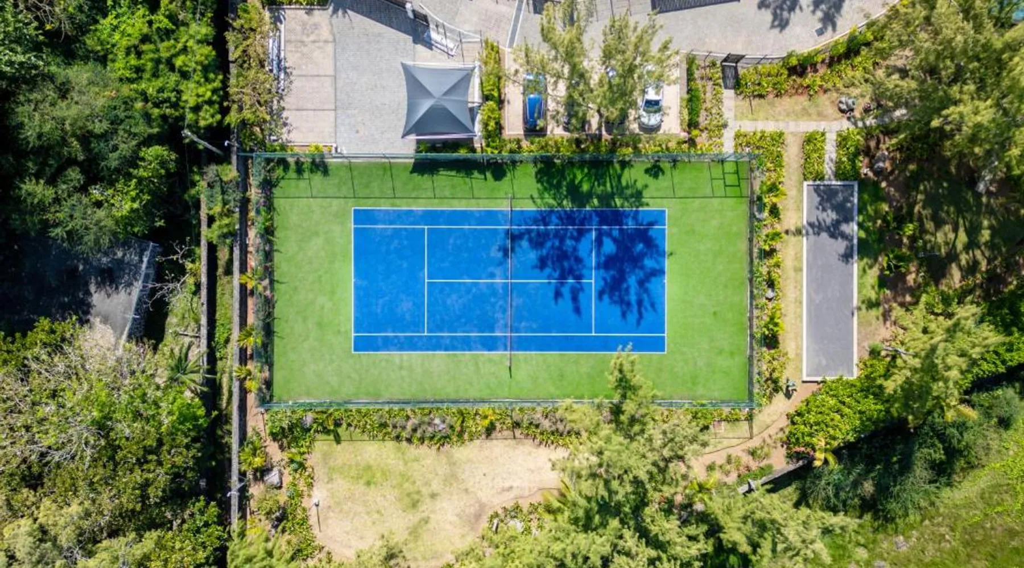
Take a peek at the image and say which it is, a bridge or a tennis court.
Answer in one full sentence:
This aerial view contains a tennis court.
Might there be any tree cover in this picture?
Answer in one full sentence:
Yes, tree cover shows up in the scene.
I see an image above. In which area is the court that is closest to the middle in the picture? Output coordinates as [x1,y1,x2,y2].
[269,159,748,403]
